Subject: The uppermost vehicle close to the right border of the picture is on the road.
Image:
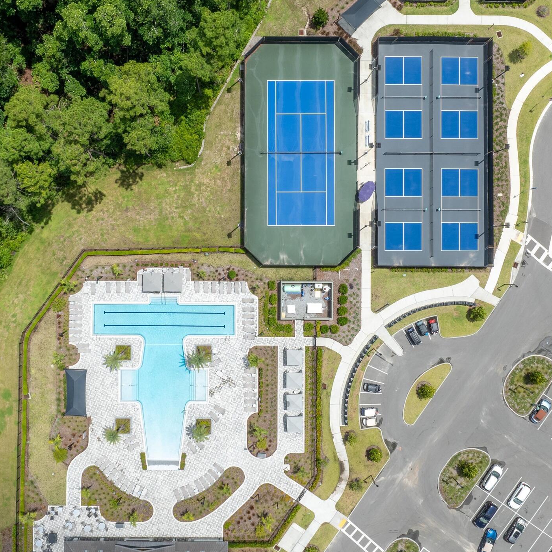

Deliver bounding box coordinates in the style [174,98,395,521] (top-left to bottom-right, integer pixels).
[531,398,552,425]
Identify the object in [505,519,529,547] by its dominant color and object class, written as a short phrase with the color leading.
gray car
